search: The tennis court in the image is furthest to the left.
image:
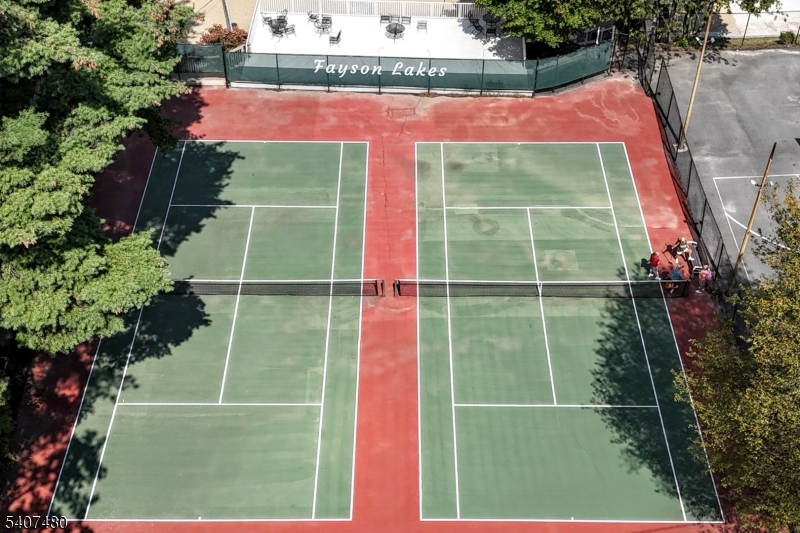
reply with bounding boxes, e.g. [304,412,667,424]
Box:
[47,141,368,520]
